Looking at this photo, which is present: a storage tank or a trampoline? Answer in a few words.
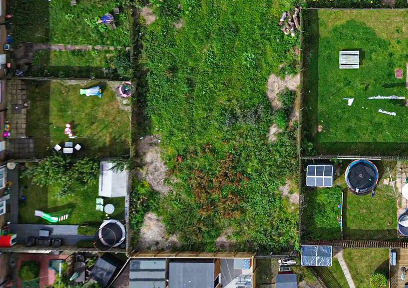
trampoline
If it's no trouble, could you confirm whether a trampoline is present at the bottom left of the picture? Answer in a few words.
Yes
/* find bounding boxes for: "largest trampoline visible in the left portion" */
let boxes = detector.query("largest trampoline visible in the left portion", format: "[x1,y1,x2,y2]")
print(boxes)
[91,218,128,254]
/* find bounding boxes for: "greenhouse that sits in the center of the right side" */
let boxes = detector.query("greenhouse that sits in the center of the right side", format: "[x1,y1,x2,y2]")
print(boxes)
[306,162,334,187]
